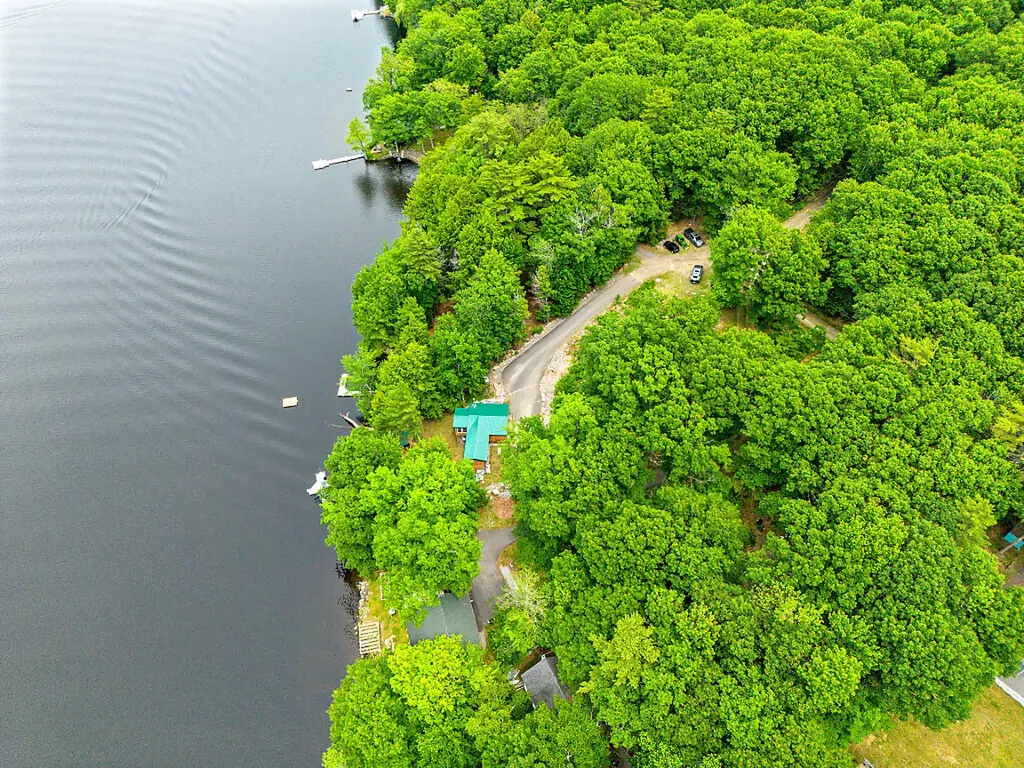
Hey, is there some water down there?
Yes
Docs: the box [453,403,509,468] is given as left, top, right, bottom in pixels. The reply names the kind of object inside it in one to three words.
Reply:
house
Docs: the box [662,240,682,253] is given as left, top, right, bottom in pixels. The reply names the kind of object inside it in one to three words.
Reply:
vehicle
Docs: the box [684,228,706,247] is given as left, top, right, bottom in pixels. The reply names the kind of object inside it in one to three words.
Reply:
vehicle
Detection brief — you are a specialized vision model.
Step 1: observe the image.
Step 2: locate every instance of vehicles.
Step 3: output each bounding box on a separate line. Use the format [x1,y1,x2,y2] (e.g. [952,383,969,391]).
[674,231,691,251]
[684,228,706,247]
[662,240,682,253]
[691,266,702,283]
